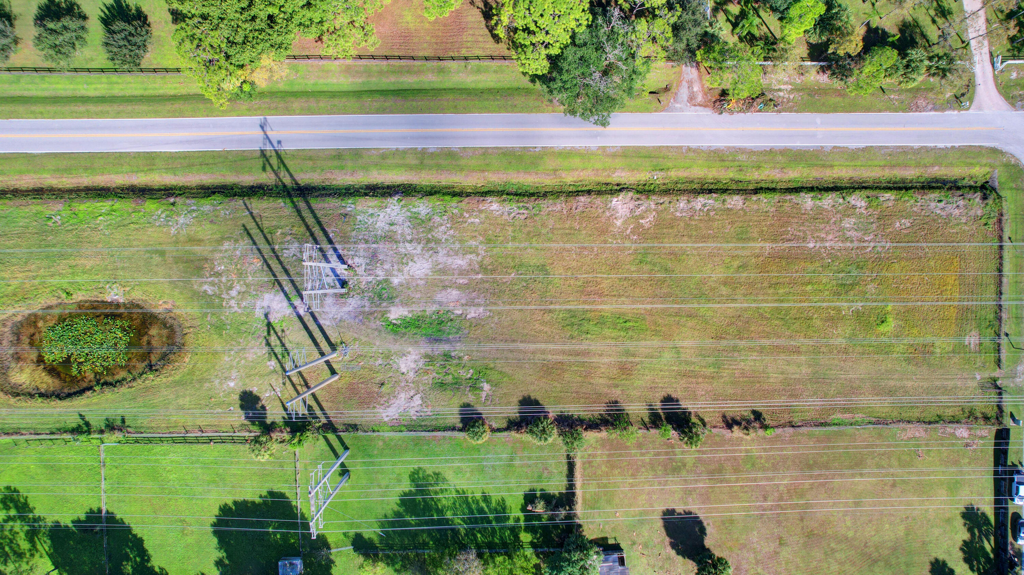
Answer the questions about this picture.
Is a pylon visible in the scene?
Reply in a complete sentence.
Yes, looking at the shot, I can spot a pylon.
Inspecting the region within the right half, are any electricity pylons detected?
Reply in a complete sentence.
No, there is no electricity pylon within the right half.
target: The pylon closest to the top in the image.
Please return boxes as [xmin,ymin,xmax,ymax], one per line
[302,244,349,313]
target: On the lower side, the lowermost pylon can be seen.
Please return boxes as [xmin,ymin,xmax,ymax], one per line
[308,449,350,539]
